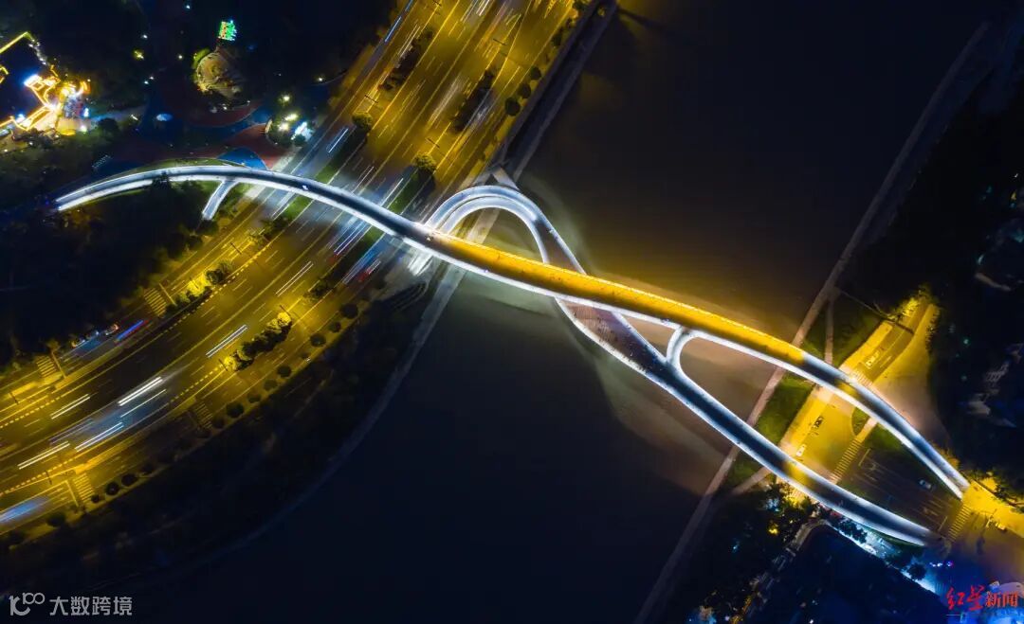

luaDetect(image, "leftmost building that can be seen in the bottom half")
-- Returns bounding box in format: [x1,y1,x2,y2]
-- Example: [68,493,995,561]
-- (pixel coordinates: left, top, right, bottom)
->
[719,503,950,624]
